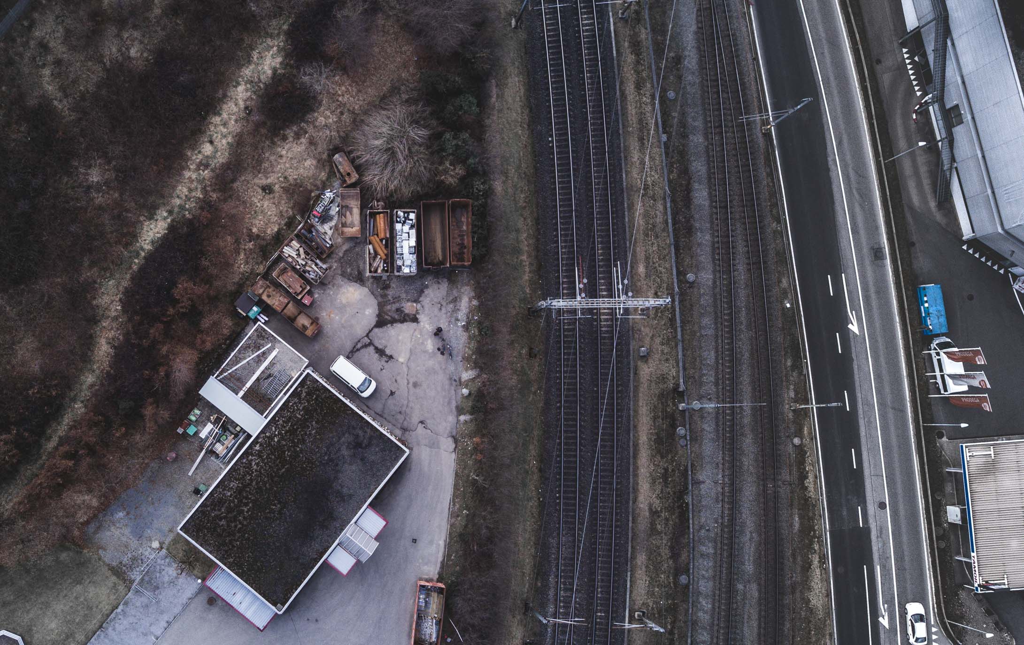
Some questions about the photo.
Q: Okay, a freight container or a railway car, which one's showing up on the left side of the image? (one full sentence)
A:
What appears on the left side of the image is a freight container.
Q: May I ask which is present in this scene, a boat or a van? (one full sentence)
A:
The one in the frame is a van.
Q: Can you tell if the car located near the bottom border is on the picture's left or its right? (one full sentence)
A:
It is on the right.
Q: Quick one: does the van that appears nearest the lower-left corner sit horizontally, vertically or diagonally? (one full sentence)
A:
The van that appears nearest the lower-left corner runs diagonally in the image.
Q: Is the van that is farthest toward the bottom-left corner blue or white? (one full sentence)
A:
In this view, the van that is farthest toward the bottom-left corner is white.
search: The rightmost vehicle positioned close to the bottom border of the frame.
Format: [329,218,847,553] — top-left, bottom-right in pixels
[902,601,930,645]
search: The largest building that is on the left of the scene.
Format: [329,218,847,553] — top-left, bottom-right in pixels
[179,366,408,632]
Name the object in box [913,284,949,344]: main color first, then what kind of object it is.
blue trailer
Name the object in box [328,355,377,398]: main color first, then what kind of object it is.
white van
